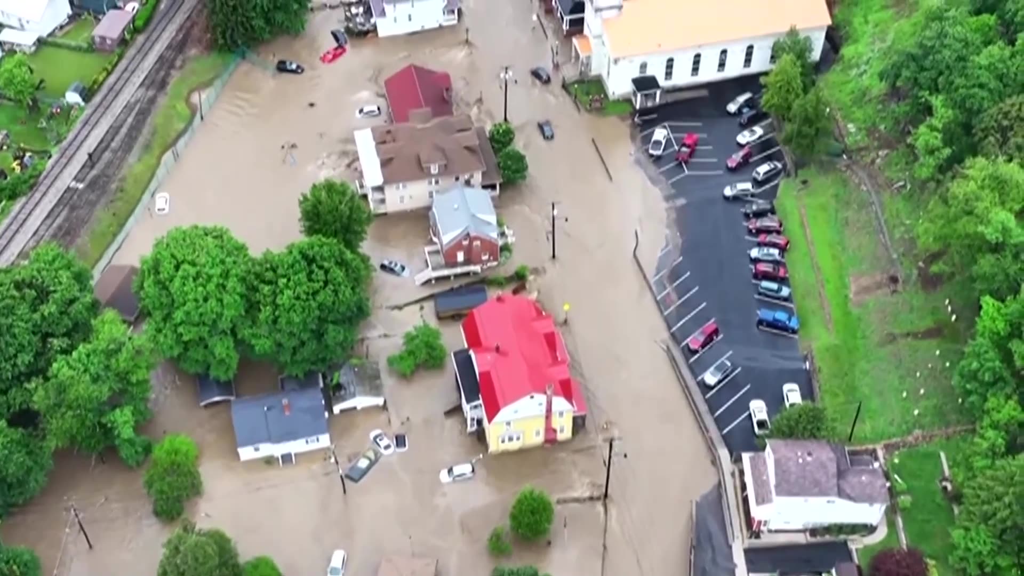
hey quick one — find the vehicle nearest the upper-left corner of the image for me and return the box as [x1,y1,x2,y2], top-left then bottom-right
[155,195,170,218]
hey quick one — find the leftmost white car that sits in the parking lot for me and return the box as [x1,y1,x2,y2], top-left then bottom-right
[650,129,667,156]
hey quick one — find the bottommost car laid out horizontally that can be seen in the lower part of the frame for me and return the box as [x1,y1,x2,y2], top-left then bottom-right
[439,463,476,484]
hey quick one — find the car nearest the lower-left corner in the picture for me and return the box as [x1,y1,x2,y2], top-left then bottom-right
[327,550,348,576]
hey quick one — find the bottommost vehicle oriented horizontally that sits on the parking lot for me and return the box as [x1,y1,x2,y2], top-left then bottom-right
[755,309,800,331]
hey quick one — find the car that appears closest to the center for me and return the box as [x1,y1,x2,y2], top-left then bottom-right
[378,260,413,282]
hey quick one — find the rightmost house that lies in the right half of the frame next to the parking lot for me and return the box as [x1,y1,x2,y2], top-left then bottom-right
[744,444,889,532]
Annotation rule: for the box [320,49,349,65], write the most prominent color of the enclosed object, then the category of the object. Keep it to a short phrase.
red car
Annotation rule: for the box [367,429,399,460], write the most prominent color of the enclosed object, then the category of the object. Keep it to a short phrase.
white car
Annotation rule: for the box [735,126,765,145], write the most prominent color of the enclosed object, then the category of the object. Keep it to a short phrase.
white car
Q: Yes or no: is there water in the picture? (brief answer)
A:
Yes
